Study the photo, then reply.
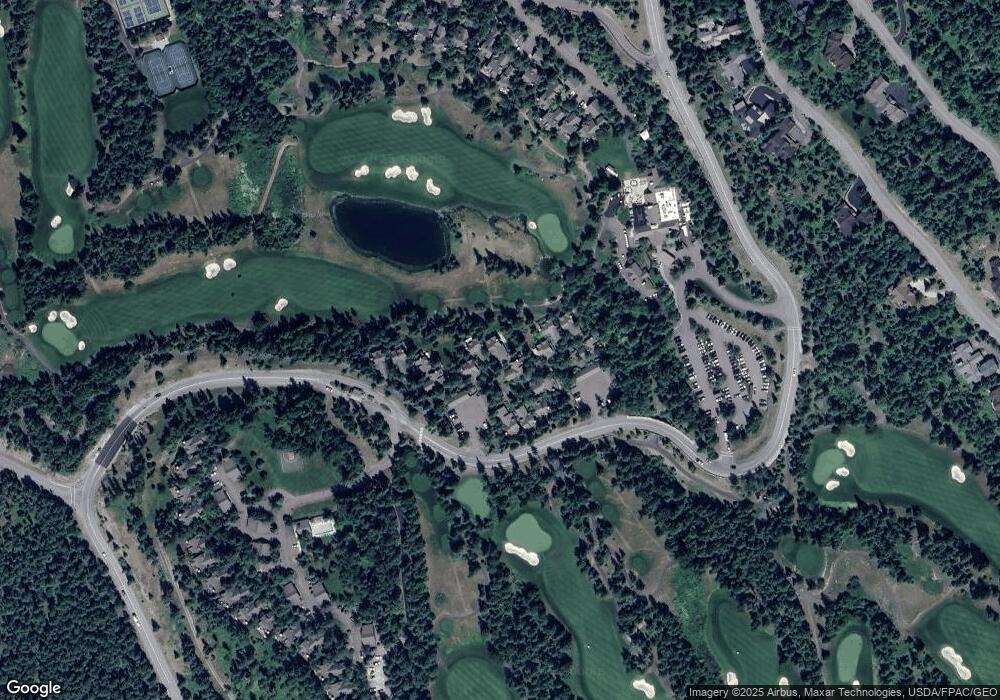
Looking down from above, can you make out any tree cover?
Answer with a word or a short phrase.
Yes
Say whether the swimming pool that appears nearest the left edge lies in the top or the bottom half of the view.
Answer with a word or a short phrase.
bottom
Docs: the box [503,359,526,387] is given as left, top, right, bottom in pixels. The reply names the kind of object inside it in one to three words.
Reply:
house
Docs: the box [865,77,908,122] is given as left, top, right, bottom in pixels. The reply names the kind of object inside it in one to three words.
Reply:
house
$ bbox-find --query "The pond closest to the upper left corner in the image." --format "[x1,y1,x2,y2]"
[333,197,449,268]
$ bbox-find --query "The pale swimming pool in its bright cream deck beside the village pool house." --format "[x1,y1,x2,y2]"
[310,516,336,537]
